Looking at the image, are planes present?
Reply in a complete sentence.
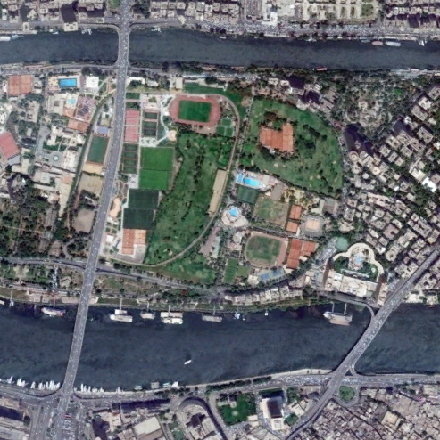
No, the picture doesn't show any plane.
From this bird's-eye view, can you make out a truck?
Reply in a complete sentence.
No, the scene contains no truck.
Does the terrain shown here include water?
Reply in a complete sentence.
Yes, water shows up in the scene.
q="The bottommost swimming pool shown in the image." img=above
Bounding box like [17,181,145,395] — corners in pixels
[350,249,365,269]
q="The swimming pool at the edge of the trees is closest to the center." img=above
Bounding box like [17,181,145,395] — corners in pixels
[226,206,241,219]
